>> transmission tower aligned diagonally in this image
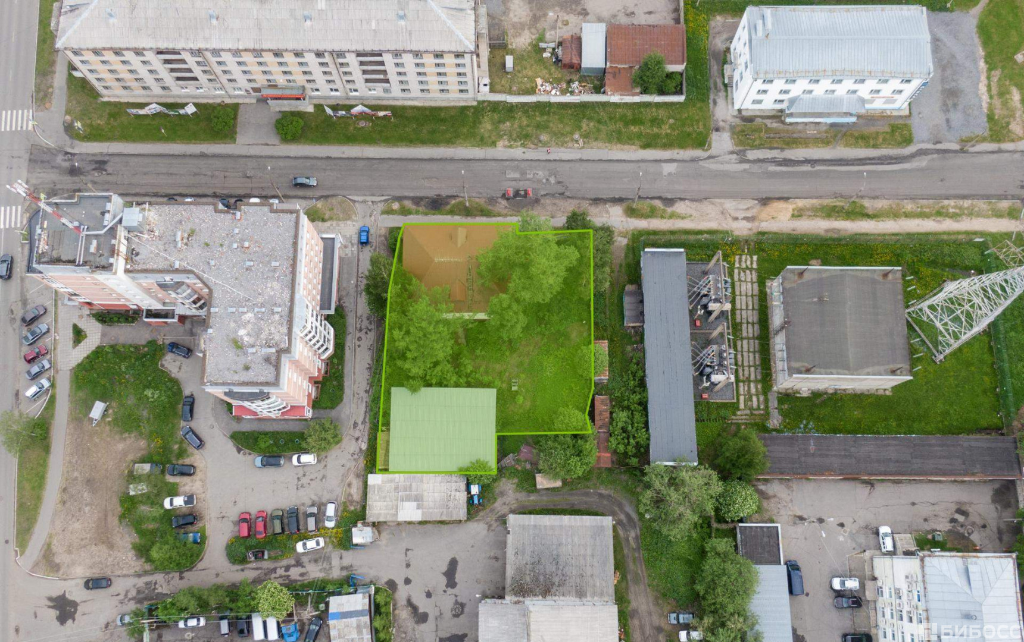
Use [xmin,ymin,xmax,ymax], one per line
[906,238,1024,362]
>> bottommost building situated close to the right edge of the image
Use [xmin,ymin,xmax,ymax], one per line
[864,550,1024,642]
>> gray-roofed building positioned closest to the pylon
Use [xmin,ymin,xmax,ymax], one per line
[761,265,912,396]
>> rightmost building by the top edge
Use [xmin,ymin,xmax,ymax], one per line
[723,2,932,123]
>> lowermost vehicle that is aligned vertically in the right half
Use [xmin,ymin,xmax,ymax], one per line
[784,561,805,596]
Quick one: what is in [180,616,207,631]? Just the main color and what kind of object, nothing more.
white car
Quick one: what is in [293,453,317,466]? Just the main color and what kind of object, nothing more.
white vehicle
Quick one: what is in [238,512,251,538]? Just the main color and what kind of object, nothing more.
red vehicle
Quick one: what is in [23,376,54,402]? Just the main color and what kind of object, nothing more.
white car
